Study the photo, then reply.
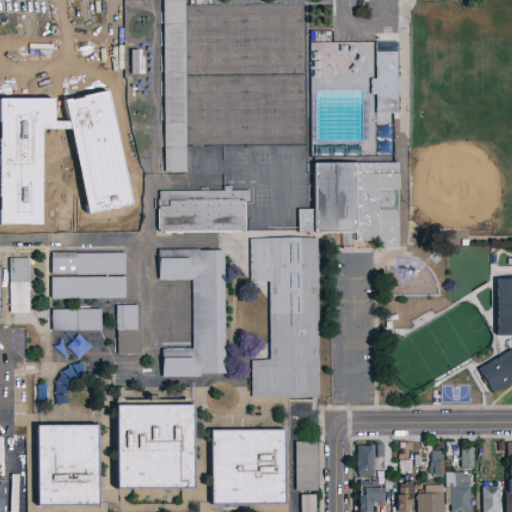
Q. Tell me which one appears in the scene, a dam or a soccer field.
soccer field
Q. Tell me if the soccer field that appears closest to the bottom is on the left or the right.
right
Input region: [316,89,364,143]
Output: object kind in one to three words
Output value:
swimming pool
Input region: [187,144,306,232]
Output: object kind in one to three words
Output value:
sports court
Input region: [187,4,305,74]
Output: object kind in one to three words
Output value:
sports court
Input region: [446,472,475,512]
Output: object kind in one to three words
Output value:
house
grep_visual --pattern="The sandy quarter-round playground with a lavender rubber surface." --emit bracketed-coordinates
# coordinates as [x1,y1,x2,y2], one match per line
[391,254,441,297]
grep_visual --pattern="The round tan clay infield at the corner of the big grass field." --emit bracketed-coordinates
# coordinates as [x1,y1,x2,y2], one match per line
[412,141,502,227]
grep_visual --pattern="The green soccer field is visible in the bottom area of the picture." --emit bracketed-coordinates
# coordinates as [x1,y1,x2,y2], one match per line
[392,302,494,390]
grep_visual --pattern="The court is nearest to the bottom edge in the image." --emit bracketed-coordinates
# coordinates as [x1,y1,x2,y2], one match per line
[442,384,472,404]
